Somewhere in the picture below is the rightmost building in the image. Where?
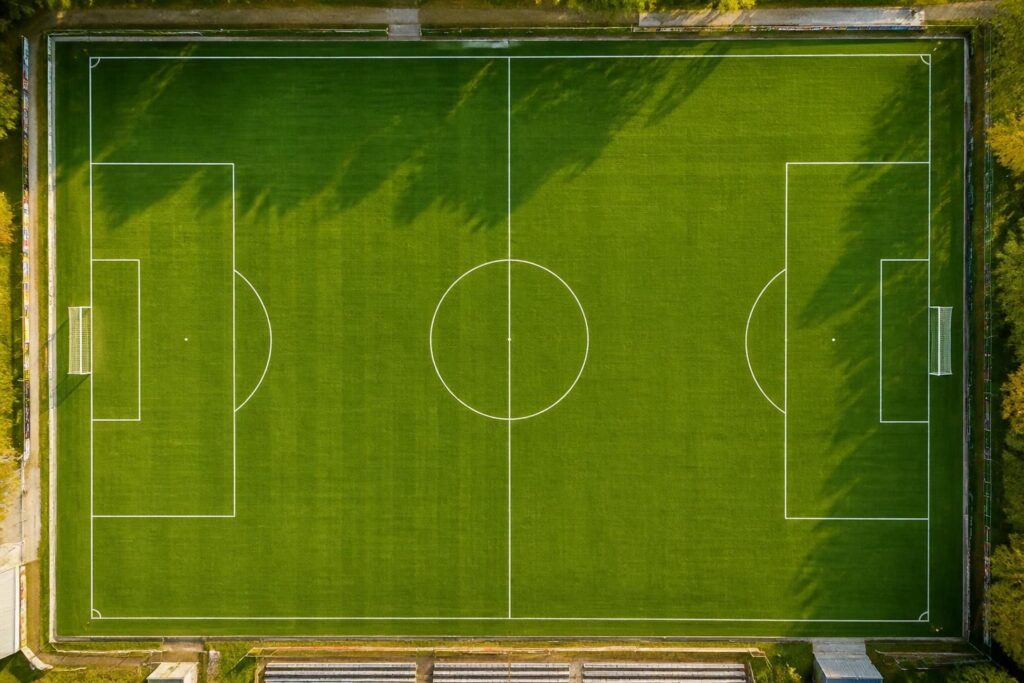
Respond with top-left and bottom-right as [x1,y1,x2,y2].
[814,653,885,683]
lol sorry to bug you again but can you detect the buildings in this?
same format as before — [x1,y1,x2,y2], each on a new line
[146,662,197,683]
[814,653,885,683]
[0,565,21,659]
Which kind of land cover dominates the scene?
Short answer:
grass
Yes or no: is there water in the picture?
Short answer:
No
